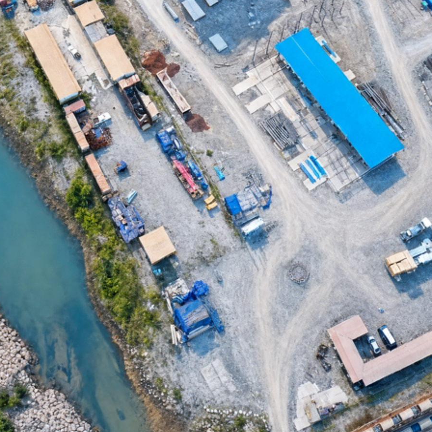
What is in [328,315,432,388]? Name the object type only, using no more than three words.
building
